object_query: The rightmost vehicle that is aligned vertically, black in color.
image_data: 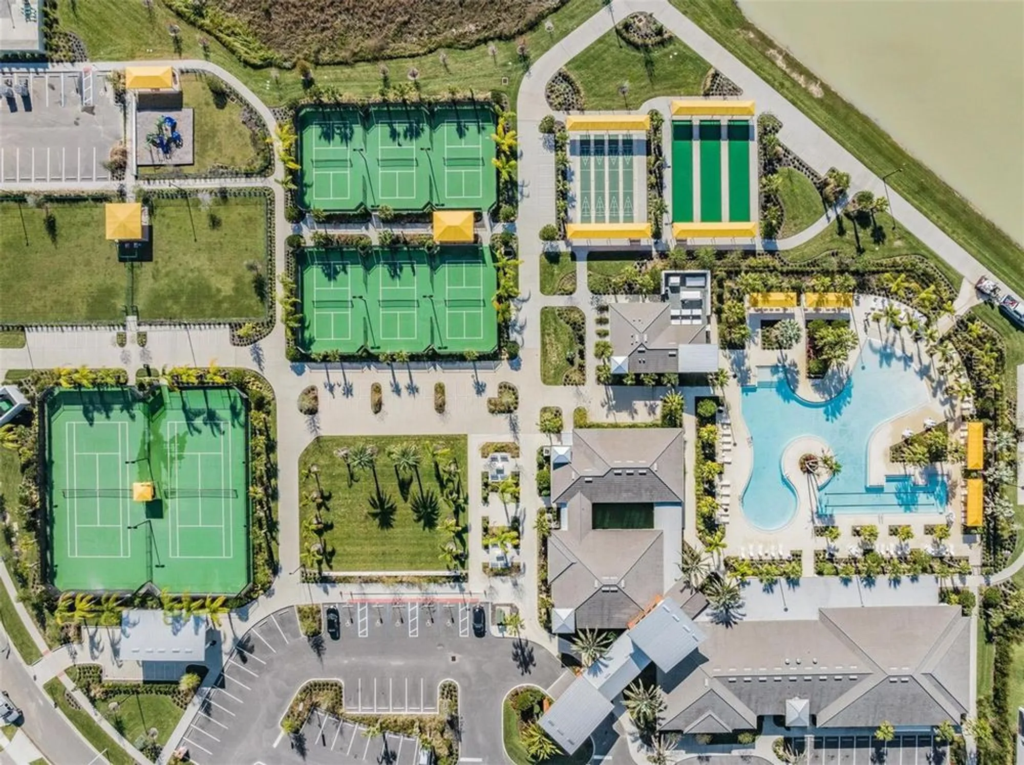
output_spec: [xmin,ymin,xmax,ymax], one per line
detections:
[472,609,486,638]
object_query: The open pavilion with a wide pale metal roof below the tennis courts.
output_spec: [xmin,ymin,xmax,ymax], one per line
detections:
[120,610,210,661]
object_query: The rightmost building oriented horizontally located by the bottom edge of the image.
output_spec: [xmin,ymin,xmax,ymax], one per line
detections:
[656,607,972,735]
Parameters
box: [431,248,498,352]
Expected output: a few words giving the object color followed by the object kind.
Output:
green sports court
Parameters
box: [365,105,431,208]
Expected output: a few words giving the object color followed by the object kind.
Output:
green sports court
